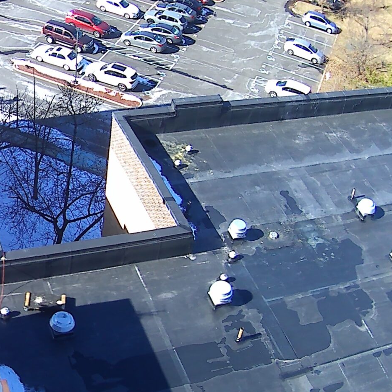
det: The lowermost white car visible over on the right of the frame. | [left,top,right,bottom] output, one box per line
[265,79,313,96]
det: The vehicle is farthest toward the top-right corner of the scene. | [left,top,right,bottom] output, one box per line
[301,8,337,34]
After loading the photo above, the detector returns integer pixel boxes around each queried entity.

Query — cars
[283,36,325,64]
[301,8,337,34]
[64,7,113,38]
[133,21,182,44]
[143,5,191,29]
[30,44,86,71]
[117,28,169,53]
[265,79,313,96]
[153,0,199,19]
[84,60,140,90]
[96,0,139,19]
